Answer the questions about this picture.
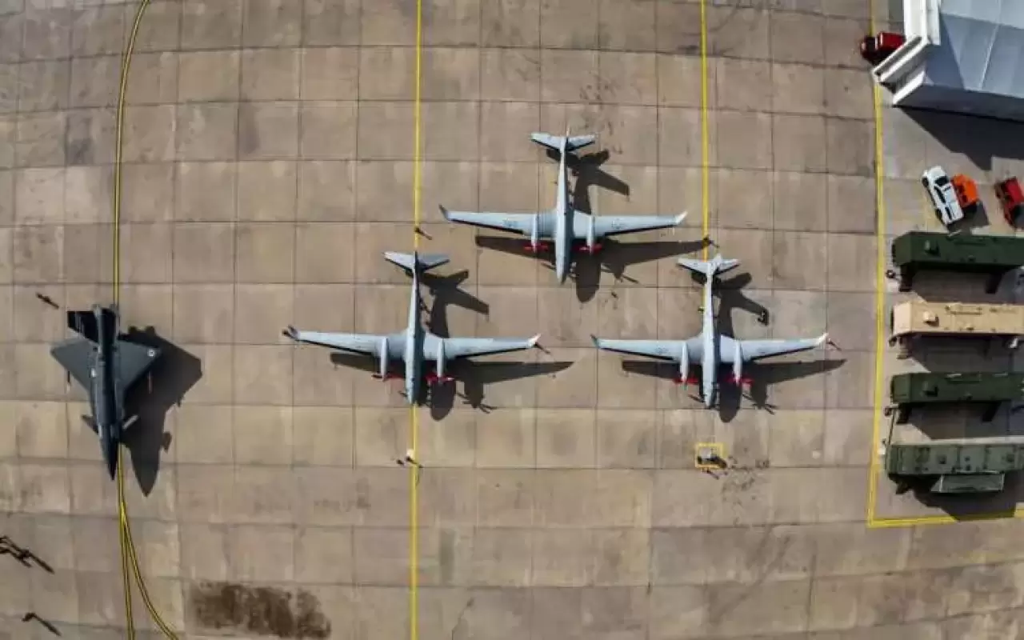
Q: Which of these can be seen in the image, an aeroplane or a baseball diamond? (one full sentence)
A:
Visible in the photo is an aeroplane.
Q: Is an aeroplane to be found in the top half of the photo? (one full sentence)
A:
Yes, an aeroplane shows up in the top half of the photo.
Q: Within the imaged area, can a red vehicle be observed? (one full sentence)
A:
Yes, looking at the shot, I can spot a red vehicle.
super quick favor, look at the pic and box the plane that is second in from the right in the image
[442,128,688,283]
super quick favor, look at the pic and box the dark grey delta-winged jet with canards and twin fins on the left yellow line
[54,304,163,478]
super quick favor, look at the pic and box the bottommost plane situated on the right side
[595,260,829,404]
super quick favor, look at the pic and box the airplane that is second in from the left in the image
[289,254,535,405]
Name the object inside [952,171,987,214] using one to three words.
car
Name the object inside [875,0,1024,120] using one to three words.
hangar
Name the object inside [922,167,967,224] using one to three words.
truck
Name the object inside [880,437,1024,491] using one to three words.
trailer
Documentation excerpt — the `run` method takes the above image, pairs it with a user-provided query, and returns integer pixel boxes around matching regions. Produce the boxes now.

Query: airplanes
[54,304,163,478]
[595,260,829,404]
[442,128,688,283]
[289,254,535,405]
